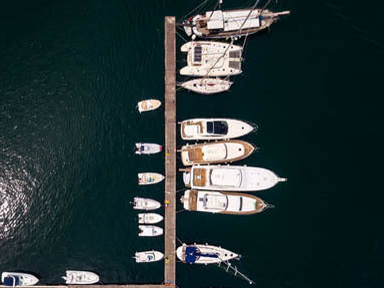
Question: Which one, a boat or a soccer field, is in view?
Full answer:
Of the two, only a boat appears.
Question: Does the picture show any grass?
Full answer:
No, the scene doesn't show any grass.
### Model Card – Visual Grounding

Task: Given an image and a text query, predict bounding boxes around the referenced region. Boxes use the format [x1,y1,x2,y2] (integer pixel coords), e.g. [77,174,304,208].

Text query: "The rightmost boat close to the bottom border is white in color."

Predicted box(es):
[176,241,254,283]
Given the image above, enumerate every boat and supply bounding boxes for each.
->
[136,93,165,113]
[135,172,165,184]
[176,190,275,214]
[63,271,100,285]
[176,164,290,193]
[176,63,233,95]
[136,225,164,236]
[176,118,259,142]
[131,197,165,210]
[2,272,40,287]
[182,172,189,185]
[176,0,259,80]
[176,241,254,283]
[185,25,192,36]
[176,140,259,167]
[135,213,165,224]
[131,250,166,263]
[134,143,164,154]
